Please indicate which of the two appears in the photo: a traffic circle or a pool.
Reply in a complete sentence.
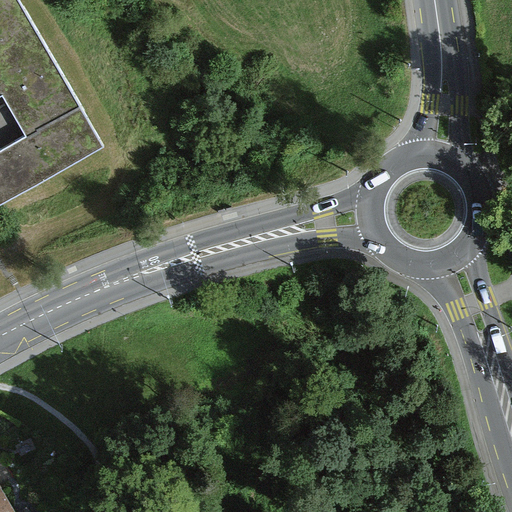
Visible in the photo is a traffic circle.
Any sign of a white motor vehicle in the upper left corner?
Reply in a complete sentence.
No, there's no white motor vehicle to be seen in the upper left corner.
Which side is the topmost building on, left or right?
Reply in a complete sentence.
The topmost building appears in the left half of the scene.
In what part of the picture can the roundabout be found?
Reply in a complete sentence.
Look in the right portion of the view to spot the roundabout.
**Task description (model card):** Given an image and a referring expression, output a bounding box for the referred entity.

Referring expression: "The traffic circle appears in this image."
[356,139,491,280]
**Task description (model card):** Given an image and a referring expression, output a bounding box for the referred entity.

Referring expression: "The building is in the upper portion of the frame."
[0,0,103,206]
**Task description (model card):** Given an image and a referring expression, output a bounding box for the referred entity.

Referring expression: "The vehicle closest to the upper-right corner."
[413,111,428,133]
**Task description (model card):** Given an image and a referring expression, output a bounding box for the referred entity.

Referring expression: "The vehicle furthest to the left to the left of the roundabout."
[312,198,340,214]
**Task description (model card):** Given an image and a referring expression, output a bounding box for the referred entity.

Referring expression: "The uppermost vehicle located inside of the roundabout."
[364,171,392,192]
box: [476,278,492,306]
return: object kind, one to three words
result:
car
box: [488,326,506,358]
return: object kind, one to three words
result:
vehicle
